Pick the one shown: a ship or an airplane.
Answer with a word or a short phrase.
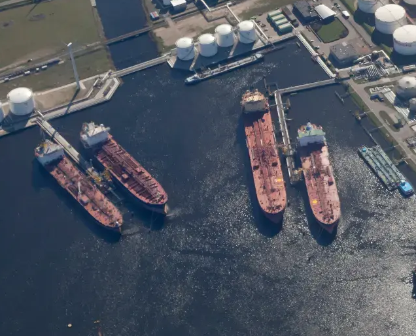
ship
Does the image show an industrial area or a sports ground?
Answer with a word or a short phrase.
industrial area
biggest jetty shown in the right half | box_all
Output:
[273,76,338,190]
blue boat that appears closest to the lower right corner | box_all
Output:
[397,179,416,200]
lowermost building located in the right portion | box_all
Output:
[328,41,358,68]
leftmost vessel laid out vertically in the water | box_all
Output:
[239,87,286,224]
